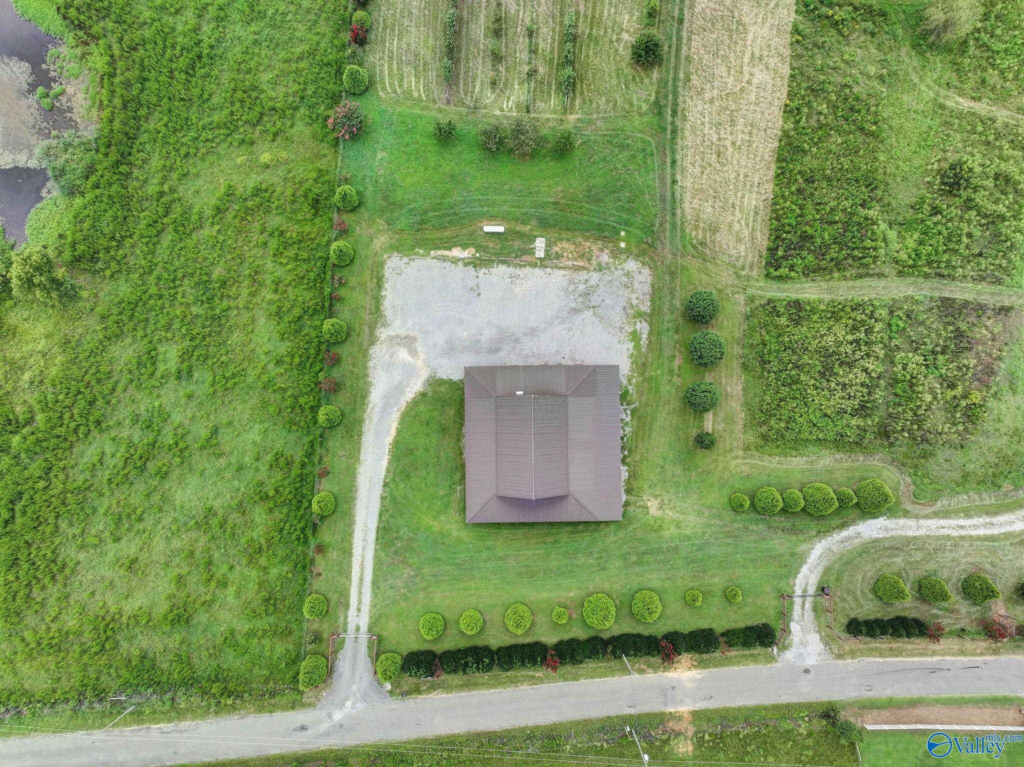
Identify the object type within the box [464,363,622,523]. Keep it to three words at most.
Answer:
barn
